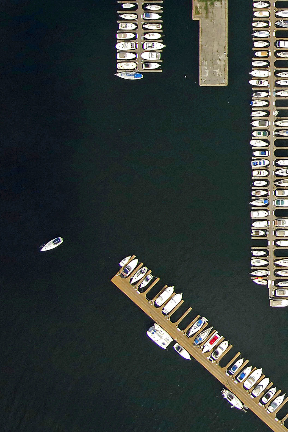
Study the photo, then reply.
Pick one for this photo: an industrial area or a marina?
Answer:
marina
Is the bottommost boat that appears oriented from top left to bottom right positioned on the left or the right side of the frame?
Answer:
right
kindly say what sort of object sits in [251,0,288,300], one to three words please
pier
